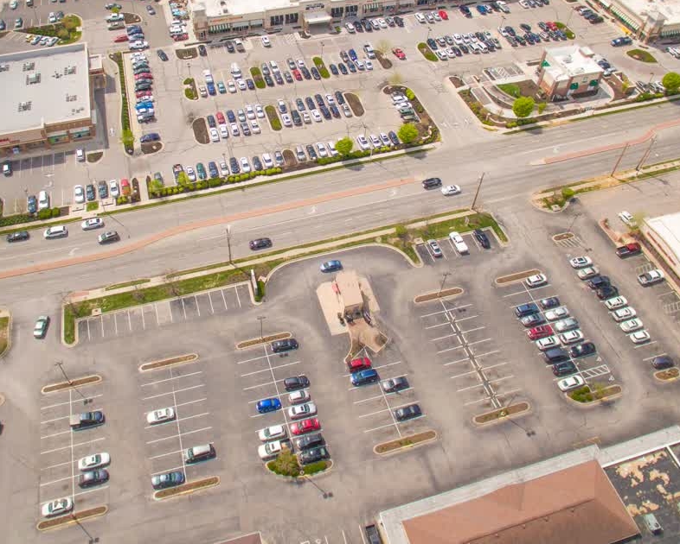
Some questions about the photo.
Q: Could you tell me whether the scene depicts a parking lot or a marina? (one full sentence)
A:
The picture captures a parking lot.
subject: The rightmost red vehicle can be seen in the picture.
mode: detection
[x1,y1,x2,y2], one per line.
[614,243,644,257]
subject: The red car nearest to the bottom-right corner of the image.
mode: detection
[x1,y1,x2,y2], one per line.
[529,325,553,338]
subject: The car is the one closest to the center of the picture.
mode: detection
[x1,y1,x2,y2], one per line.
[319,259,343,273]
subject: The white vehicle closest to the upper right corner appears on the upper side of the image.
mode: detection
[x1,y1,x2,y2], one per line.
[666,47,680,59]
